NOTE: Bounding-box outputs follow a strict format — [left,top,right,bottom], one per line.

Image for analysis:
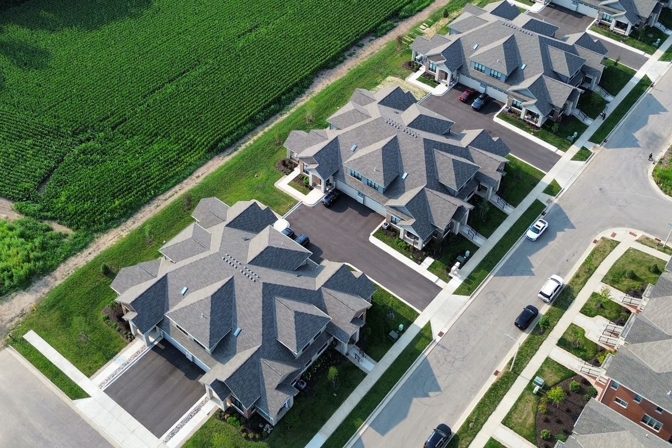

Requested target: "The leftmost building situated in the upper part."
[283,86,508,251]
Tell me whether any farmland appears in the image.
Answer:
Yes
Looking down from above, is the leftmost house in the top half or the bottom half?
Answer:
bottom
